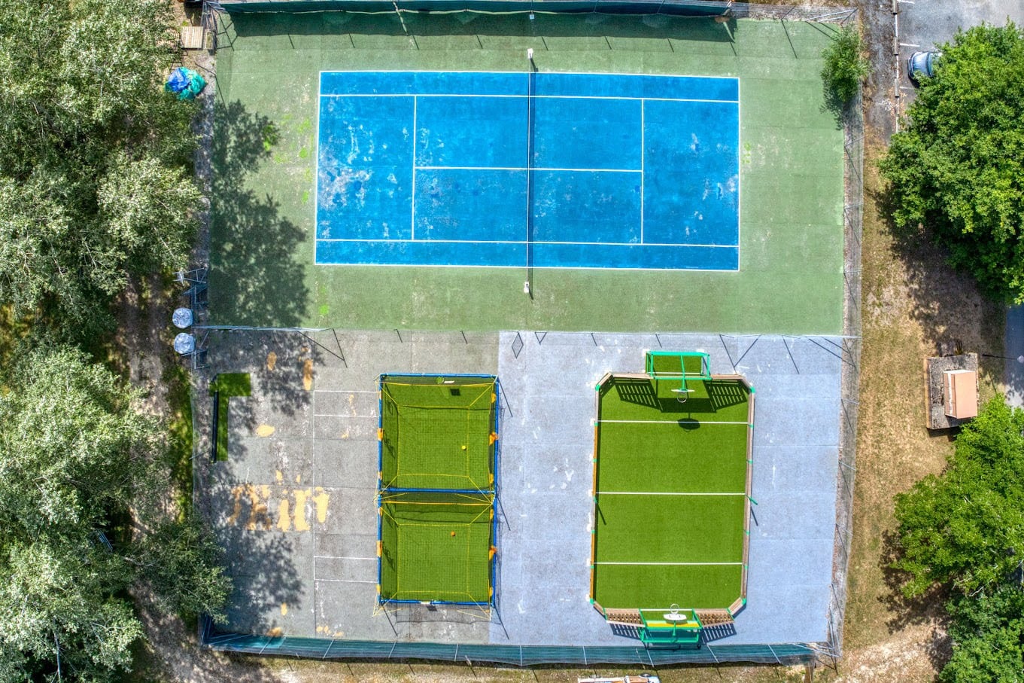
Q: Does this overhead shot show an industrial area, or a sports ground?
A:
sports ground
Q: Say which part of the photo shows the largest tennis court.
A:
top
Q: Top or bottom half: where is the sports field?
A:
bottom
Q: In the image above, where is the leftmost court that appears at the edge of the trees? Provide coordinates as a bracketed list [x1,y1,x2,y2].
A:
[205,329,499,646]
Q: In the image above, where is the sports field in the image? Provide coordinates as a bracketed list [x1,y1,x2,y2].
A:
[586,348,760,645]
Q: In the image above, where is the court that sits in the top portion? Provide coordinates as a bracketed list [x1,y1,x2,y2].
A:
[208,6,844,336]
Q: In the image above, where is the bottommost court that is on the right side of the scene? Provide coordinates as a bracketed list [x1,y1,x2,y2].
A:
[493,332,843,647]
